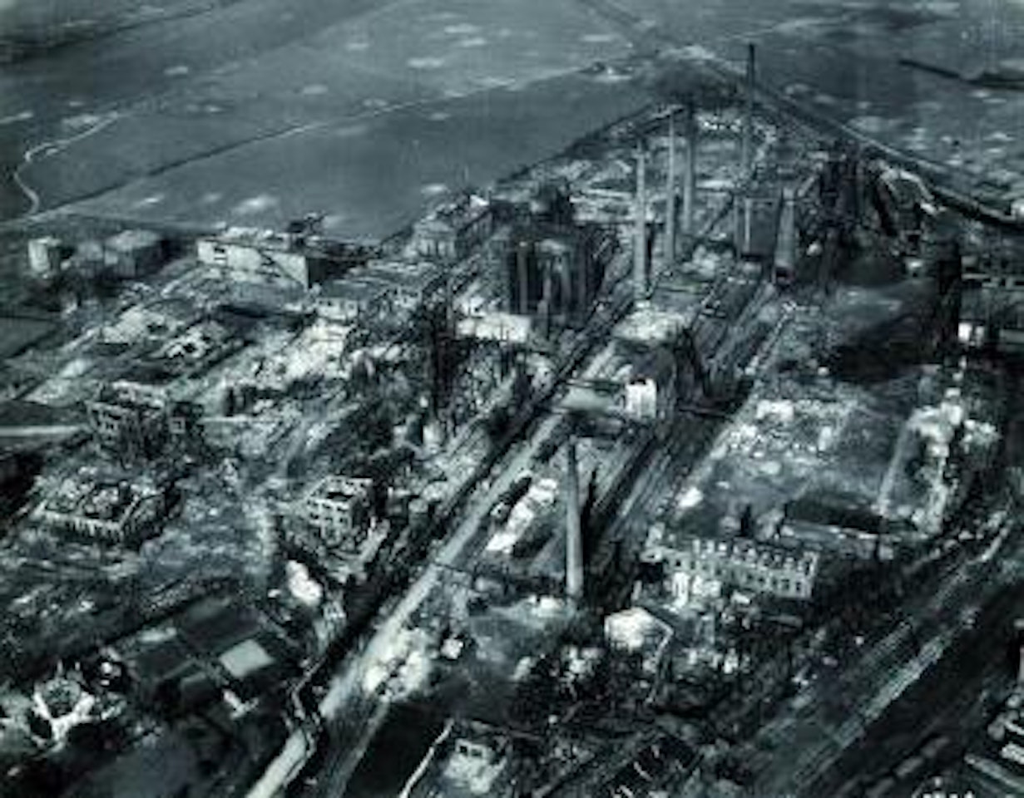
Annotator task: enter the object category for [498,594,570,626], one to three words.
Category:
building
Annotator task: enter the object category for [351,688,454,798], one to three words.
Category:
shed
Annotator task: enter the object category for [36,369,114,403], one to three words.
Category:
building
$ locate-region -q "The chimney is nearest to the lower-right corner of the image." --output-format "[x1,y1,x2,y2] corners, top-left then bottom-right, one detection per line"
[562,437,590,614]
